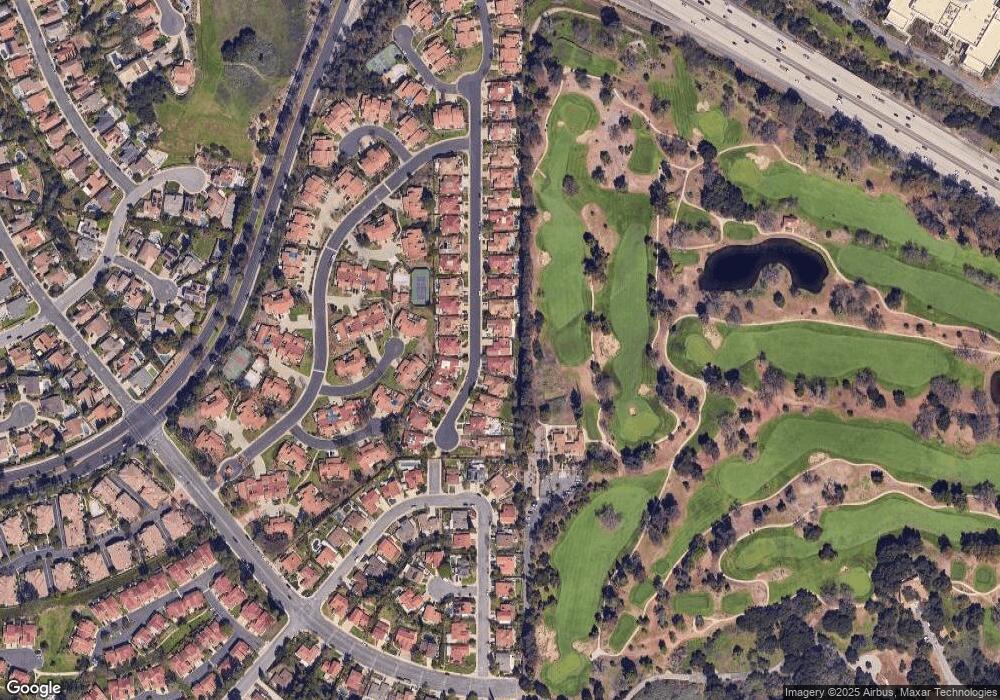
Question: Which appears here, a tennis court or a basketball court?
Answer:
tennis court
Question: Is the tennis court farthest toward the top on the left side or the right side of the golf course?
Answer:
to the left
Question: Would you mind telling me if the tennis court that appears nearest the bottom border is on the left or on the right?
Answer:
left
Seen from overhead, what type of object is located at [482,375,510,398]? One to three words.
house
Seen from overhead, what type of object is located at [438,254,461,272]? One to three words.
house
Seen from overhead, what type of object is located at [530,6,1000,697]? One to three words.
golf course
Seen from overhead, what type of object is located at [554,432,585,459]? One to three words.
building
